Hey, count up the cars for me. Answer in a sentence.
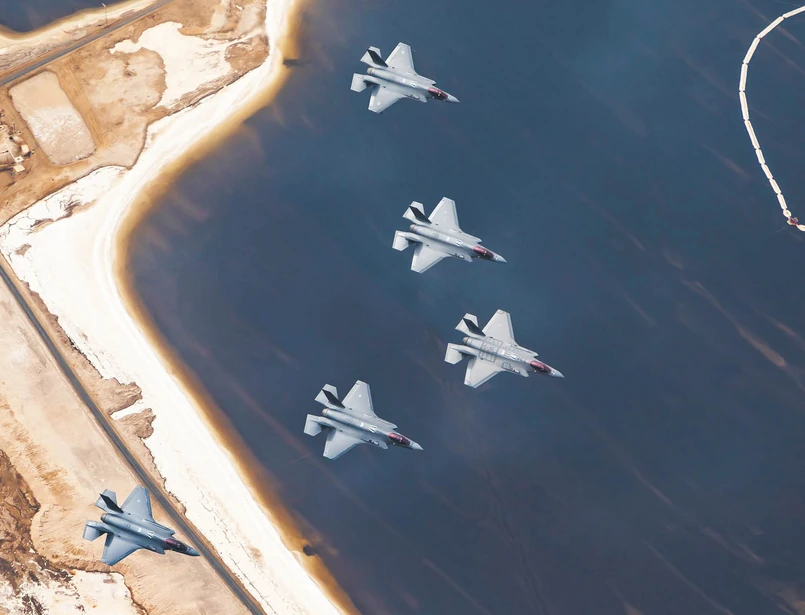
The picture shows no cars.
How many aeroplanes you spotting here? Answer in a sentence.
The count of aeroplanes comes to 5.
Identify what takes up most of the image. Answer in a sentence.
For the most part, this view shows water.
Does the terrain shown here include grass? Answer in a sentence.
No, there's no grass in this view.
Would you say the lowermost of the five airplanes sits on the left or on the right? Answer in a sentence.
The lowermost of the five airplanes appears in the left half of the scene.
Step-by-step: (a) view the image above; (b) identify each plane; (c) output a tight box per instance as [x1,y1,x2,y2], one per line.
[393,197,505,273]
[351,42,458,113]
[445,310,563,388]
[83,486,199,565]
[304,381,422,460]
